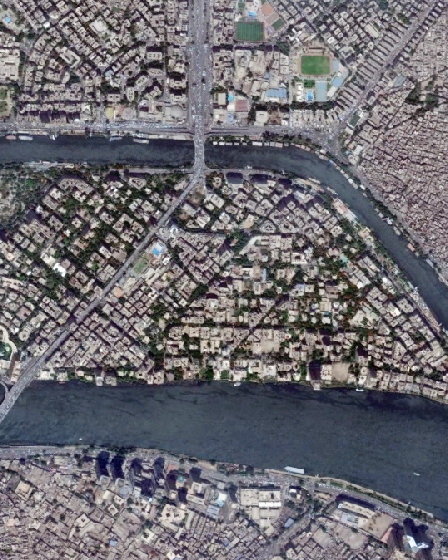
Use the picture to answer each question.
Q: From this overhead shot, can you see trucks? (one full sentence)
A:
No, there isn't any truck down there.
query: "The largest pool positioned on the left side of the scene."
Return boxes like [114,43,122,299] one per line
[147,242,166,257]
